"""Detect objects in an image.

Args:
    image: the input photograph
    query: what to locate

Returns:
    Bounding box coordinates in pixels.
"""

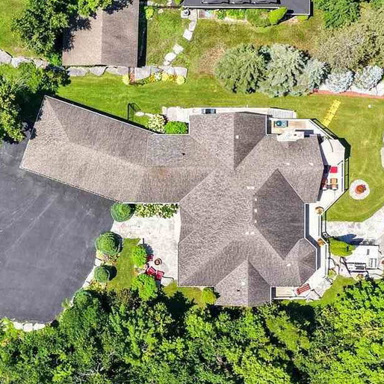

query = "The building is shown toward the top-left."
[62,0,140,68]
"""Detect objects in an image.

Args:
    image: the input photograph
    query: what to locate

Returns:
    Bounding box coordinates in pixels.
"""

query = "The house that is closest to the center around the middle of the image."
[20,95,324,306]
